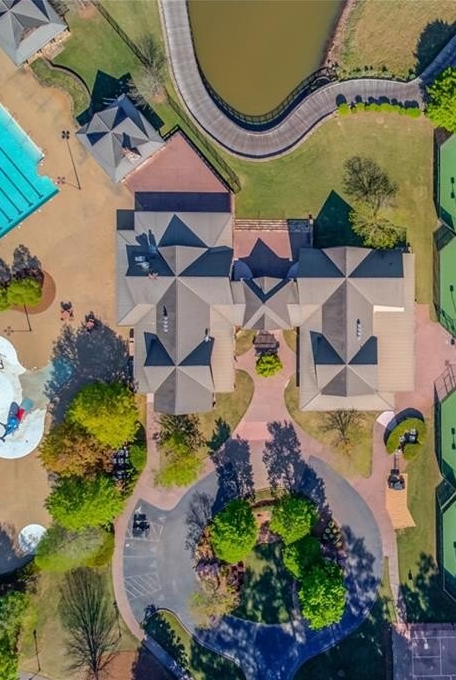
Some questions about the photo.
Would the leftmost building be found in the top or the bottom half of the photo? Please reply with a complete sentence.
It is in the top half that the leftmost building appears.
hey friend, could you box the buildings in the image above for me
[117,212,415,415]
[75,94,169,185]
[0,0,73,71]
